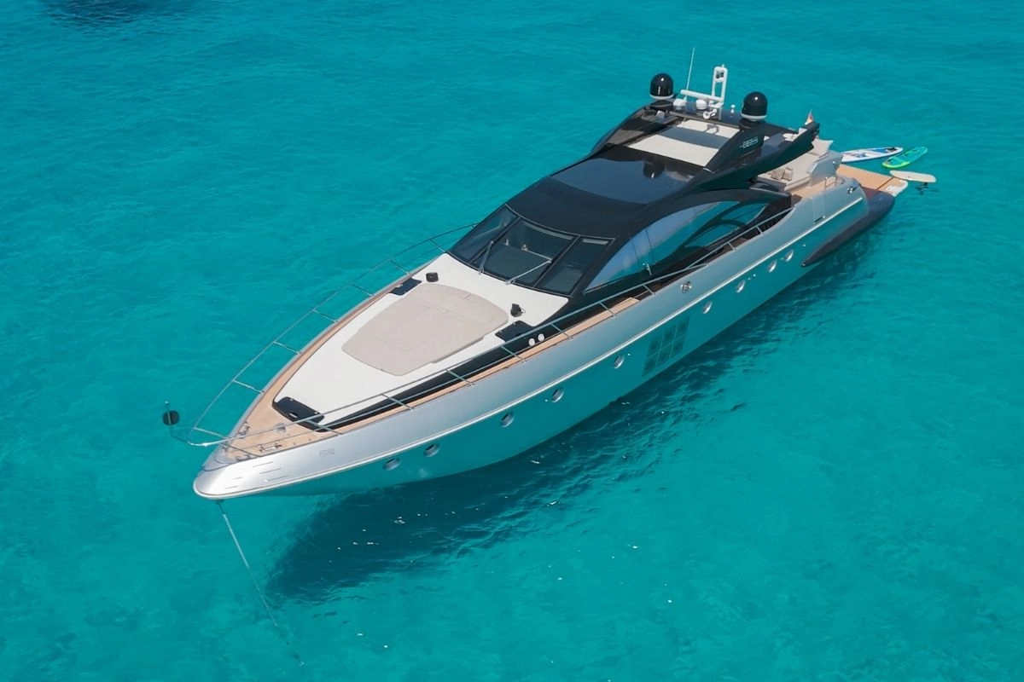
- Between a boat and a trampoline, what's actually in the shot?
boat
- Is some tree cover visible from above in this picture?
No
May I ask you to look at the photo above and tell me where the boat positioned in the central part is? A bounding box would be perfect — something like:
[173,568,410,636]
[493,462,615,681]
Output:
[163,48,905,507]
